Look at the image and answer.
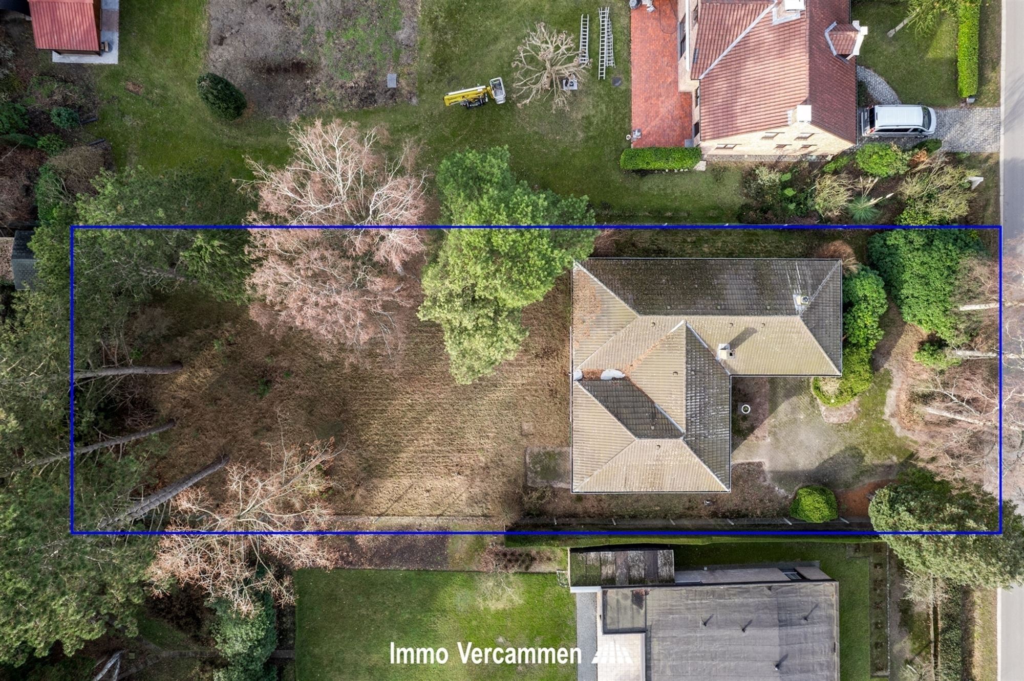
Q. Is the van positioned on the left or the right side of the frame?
right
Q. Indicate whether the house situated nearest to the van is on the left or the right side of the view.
right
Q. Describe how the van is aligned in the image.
horizontally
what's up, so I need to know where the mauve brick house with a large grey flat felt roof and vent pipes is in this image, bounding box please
[598,569,840,681]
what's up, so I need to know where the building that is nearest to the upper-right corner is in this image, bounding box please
[677,0,873,157]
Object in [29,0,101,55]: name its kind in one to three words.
shed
